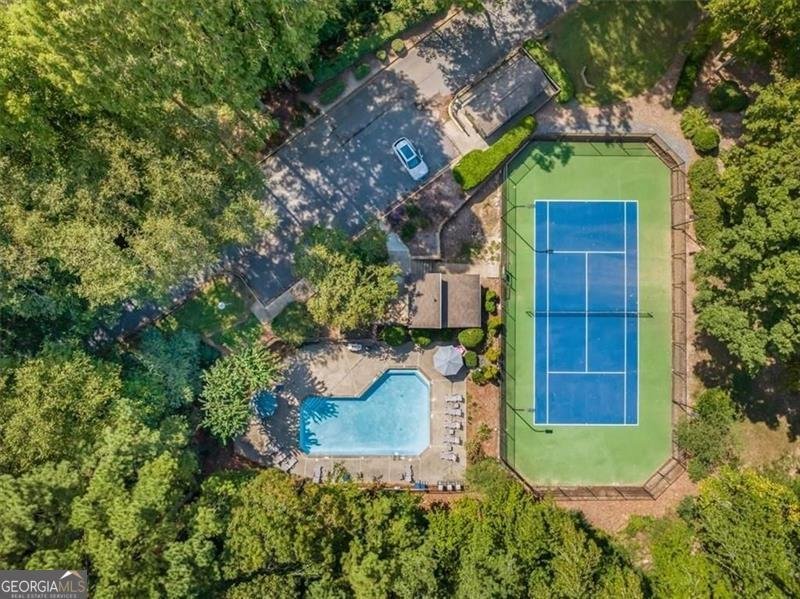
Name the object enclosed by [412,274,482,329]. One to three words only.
building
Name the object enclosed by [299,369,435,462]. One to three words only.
swimming pool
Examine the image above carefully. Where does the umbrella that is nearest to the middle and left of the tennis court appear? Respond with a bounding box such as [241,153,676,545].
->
[434,344,462,374]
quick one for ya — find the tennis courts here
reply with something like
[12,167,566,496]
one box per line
[502,141,671,487]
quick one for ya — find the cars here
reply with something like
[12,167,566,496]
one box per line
[392,137,427,182]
